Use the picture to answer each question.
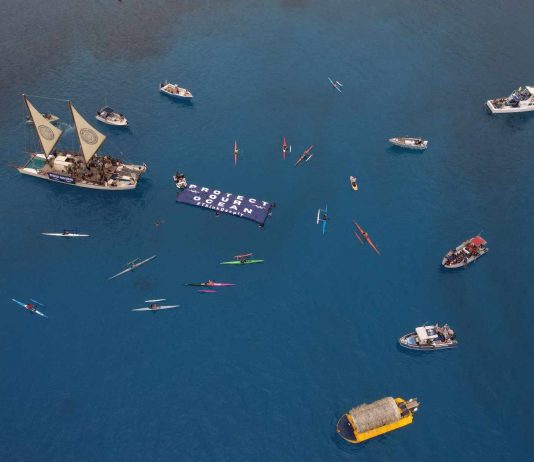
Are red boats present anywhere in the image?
Yes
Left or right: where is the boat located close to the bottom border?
right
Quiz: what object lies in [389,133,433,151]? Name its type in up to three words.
boat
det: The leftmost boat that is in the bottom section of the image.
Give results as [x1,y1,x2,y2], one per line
[11,298,46,318]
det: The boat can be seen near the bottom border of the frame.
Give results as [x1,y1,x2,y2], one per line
[337,399,424,443]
